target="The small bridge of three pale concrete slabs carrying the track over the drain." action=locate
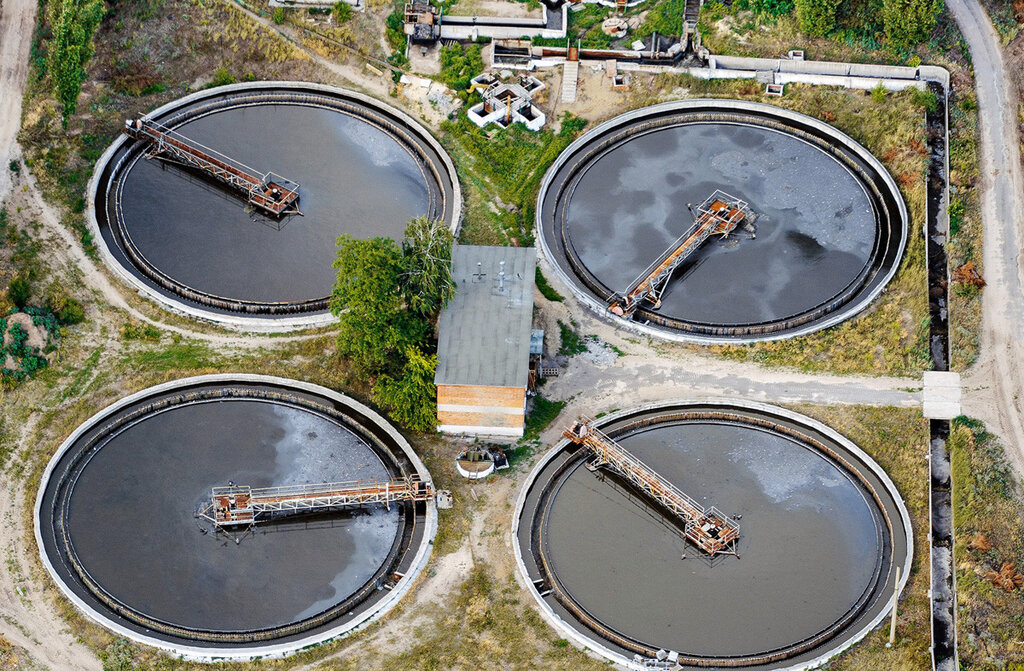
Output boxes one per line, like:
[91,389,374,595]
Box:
[922,373,961,420]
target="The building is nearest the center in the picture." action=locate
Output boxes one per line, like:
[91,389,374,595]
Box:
[435,246,543,436]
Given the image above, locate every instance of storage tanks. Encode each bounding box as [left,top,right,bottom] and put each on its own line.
[31,376,437,661]
[536,99,909,348]
[87,81,461,329]
[514,398,914,671]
